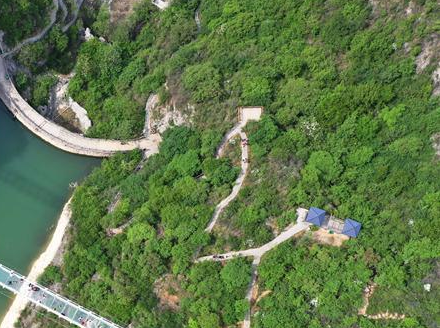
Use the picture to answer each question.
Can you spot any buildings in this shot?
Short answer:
Yes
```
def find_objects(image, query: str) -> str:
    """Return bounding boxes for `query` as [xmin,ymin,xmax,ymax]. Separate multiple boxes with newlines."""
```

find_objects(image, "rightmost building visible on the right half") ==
[336,218,361,237]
